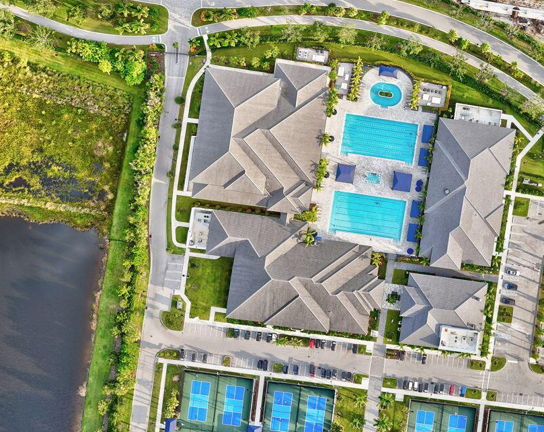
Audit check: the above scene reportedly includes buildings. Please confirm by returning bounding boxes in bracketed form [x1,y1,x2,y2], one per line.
[189,60,330,214]
[420,118,515,269]
[207,210,385,334]
[395,273,489,353]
